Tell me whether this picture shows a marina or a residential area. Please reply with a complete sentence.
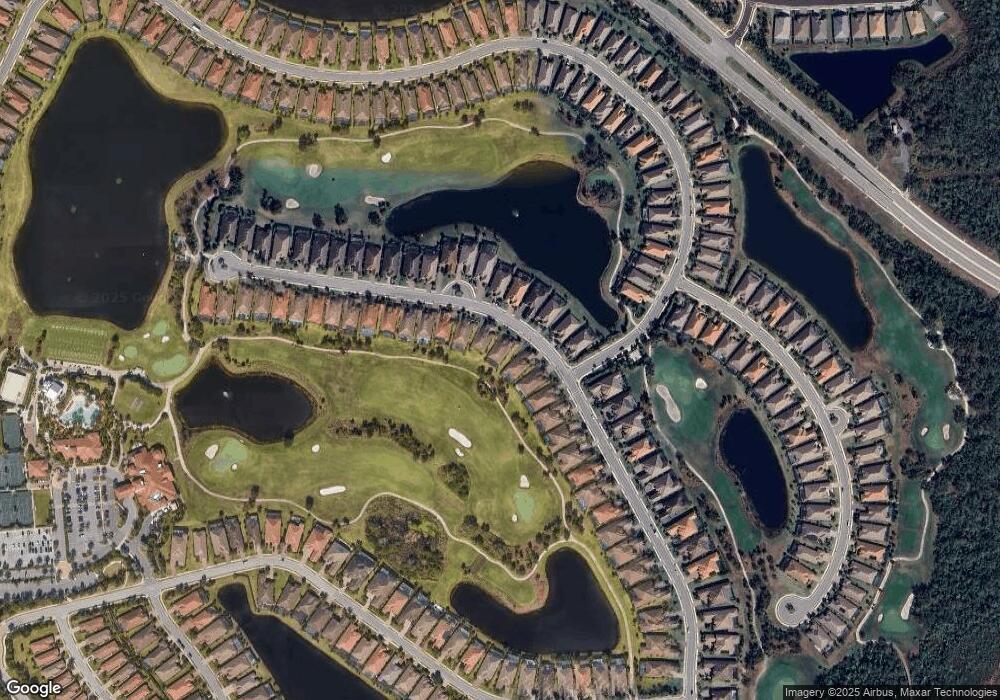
What you see here is a residential area.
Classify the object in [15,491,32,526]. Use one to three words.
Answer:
tennis court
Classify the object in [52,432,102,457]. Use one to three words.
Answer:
building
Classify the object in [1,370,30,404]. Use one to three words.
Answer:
sports court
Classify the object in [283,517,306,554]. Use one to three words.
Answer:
house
